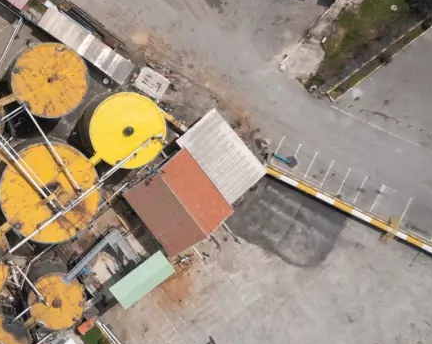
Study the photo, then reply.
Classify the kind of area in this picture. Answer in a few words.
industrial area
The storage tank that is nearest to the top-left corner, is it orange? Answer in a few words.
Yes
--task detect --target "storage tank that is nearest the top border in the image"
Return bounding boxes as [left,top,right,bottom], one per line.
[4,41,89,120]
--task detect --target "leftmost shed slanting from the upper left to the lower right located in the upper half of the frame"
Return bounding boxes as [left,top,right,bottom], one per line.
[37,7,134,84]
